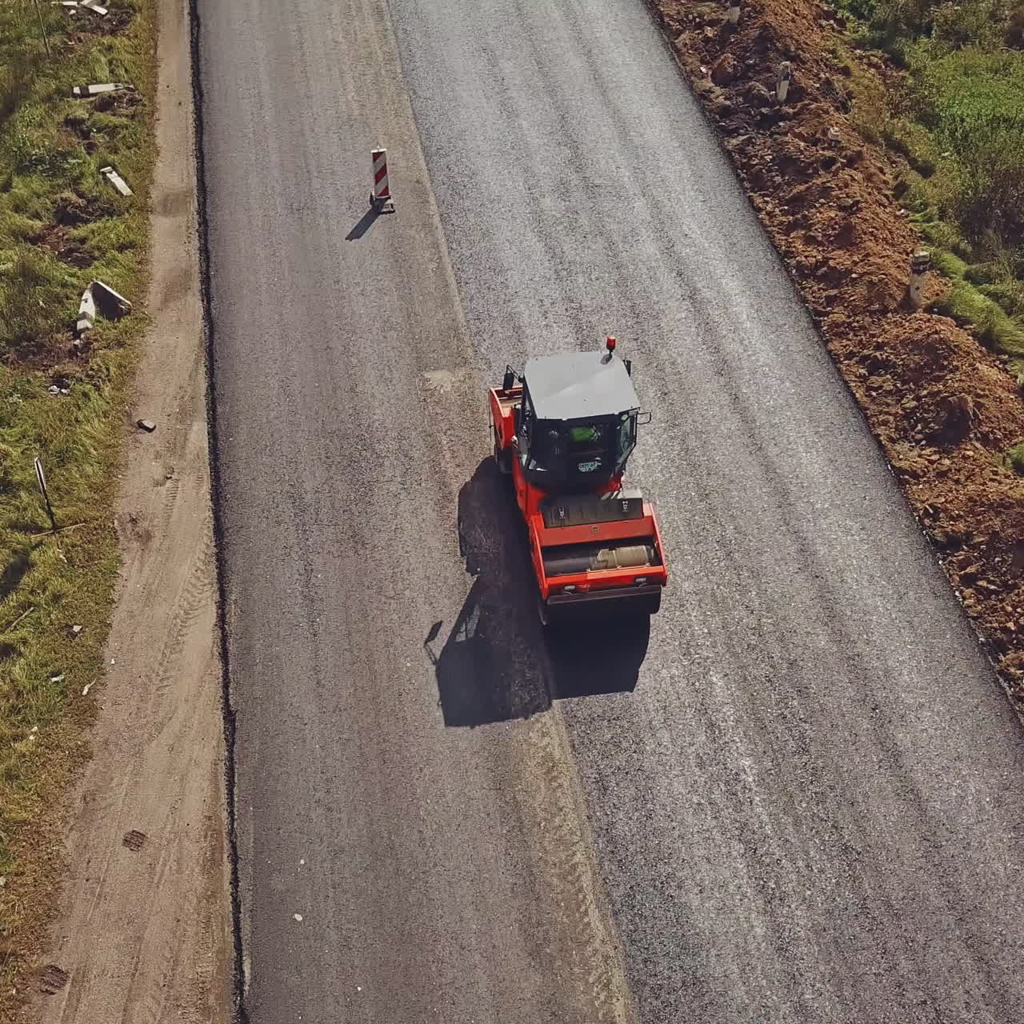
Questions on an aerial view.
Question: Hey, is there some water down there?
No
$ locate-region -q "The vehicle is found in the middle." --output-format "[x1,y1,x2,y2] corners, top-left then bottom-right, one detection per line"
[487,333,667,625]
